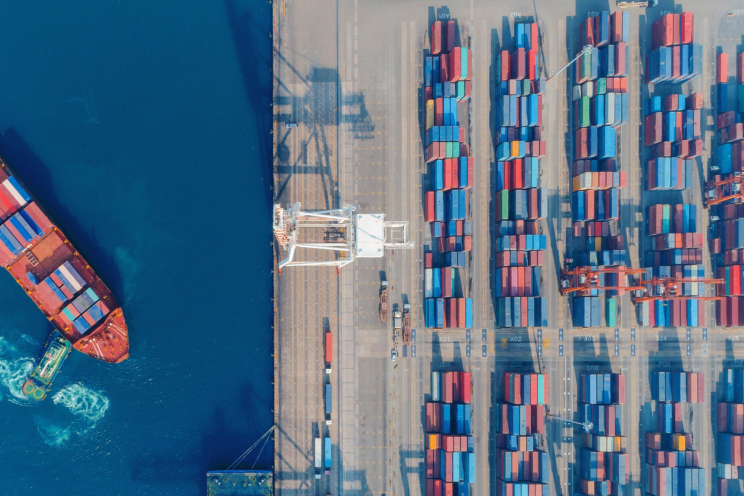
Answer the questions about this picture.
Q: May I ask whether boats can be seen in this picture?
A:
Yes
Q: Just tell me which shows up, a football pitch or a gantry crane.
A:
gantry crane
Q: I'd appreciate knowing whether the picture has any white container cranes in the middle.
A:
Yes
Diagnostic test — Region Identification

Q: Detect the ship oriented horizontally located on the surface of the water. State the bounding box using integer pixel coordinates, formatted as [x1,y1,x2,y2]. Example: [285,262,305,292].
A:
[207,469,273,496]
